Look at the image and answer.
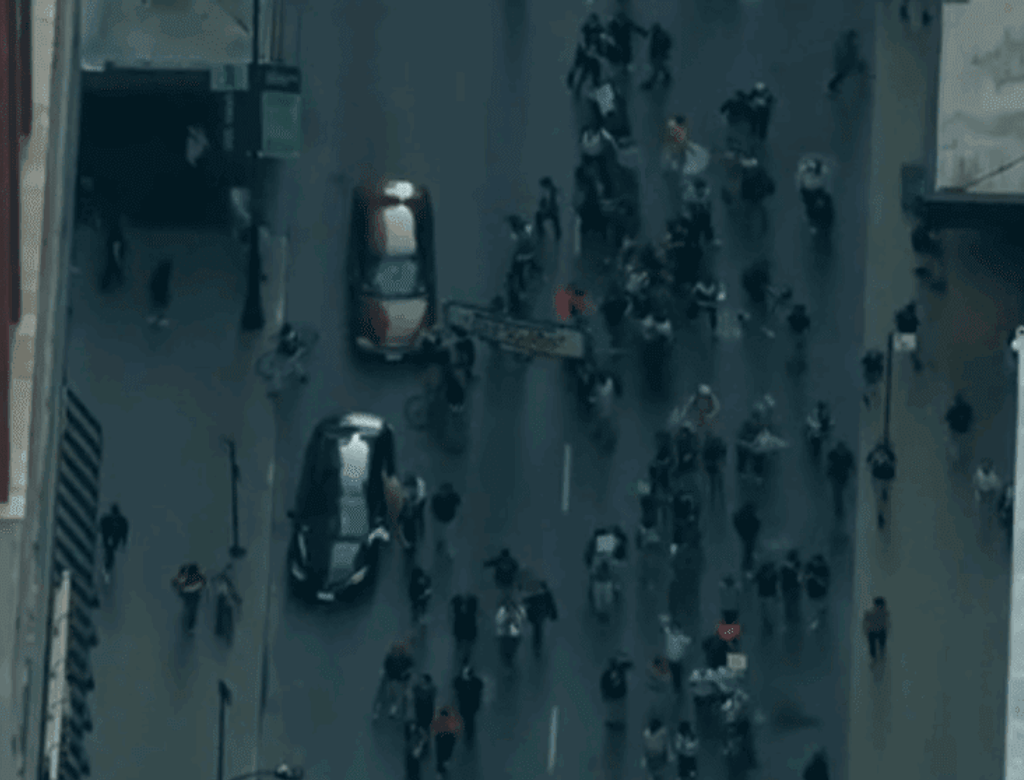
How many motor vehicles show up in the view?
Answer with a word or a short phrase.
2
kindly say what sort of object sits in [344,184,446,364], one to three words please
car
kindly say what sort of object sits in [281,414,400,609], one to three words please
car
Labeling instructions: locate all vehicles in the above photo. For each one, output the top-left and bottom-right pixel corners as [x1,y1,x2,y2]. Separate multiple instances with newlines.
[344,184,446,364]
[281,414,400,609]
